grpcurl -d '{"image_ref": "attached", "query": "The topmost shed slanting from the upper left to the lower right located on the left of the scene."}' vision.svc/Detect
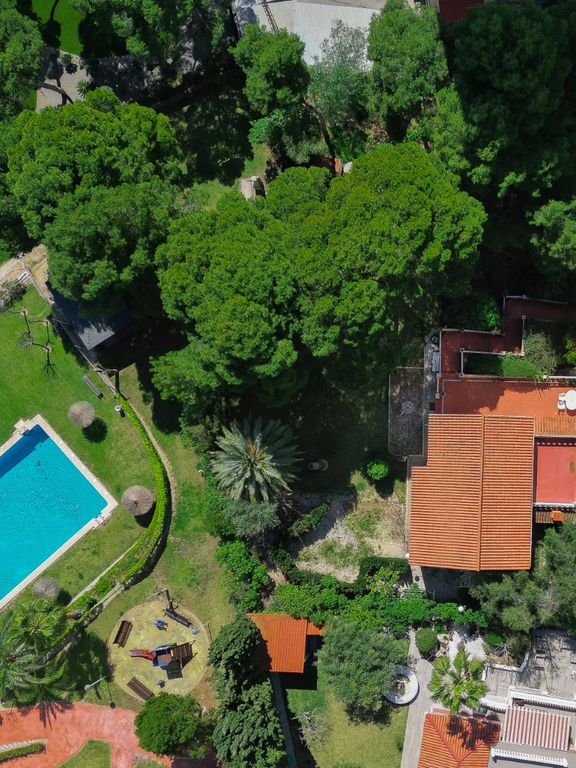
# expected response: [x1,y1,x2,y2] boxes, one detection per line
[47,287,131,350]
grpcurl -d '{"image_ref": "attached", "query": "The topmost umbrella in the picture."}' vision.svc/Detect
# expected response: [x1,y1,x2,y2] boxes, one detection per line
[68,399,98,428]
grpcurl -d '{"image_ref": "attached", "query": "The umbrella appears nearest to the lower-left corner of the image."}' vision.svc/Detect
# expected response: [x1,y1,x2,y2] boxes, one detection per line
[33,574,62,602]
